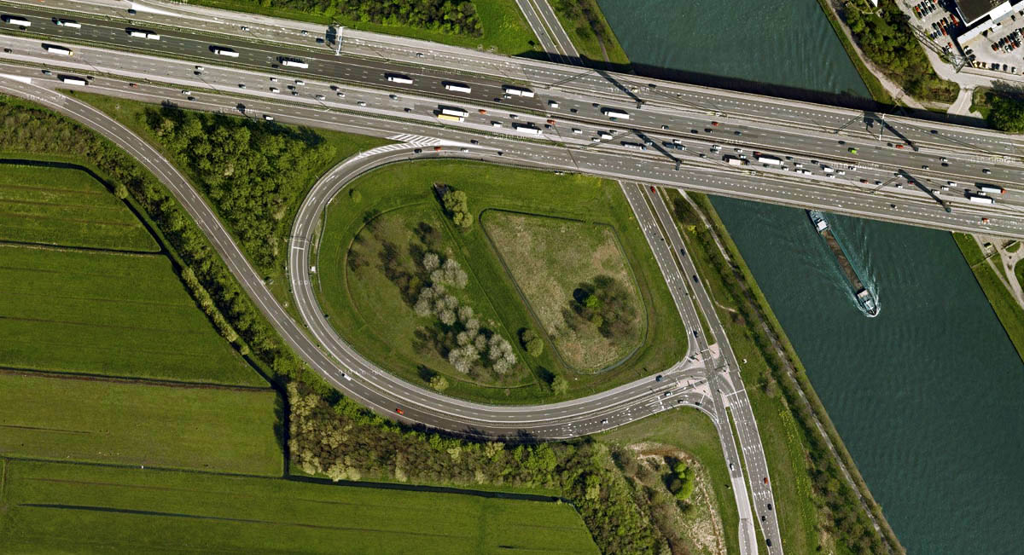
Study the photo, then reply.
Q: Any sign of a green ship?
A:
No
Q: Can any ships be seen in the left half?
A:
No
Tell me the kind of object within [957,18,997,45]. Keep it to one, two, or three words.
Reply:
building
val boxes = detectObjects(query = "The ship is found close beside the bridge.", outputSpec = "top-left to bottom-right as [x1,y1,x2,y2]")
[807,213,876,318]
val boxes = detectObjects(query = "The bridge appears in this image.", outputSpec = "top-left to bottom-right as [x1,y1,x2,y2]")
[509,53,1024,243]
